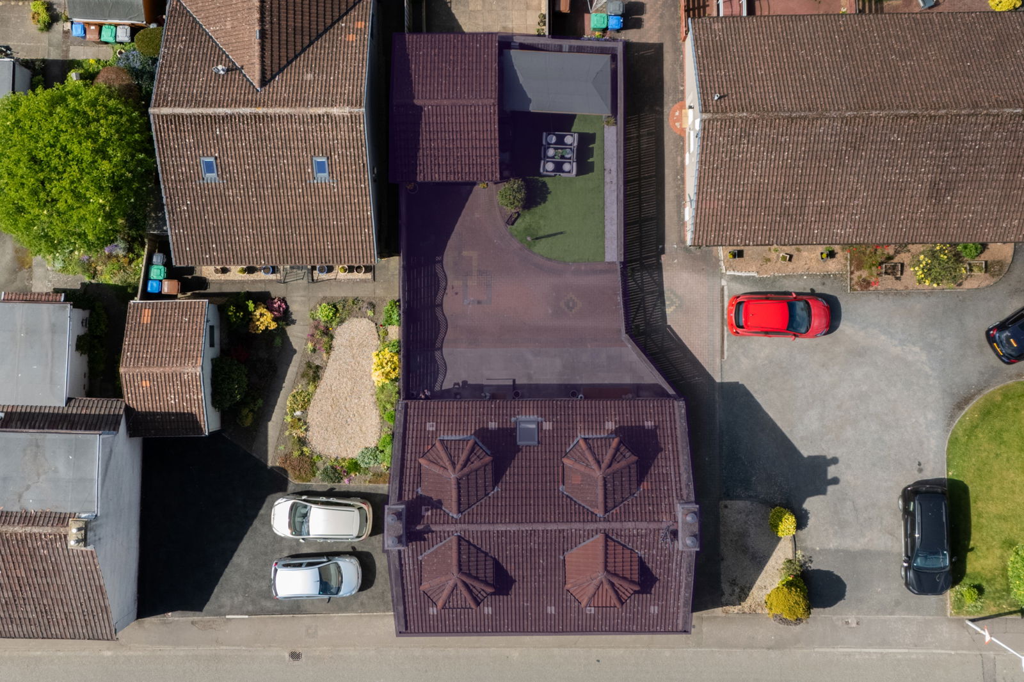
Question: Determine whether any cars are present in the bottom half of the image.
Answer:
Yes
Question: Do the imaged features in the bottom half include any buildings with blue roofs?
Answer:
No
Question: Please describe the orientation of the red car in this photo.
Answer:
horizontally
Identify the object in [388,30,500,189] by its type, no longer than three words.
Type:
building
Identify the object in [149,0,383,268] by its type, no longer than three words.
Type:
house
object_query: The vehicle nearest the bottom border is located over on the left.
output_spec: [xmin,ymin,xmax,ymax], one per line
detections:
[268,554,362,607]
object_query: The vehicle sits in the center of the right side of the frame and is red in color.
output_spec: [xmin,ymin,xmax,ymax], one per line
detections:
[730,288,834,341]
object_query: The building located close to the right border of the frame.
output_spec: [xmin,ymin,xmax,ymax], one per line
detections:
[685,10,1024,249]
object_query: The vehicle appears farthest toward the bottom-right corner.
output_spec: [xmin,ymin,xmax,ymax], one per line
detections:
[902,484,961,598]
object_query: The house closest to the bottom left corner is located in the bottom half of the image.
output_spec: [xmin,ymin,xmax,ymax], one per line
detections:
[0,396,141,643]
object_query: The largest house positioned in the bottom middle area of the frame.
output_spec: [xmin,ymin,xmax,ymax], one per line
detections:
[384,396,699,638]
